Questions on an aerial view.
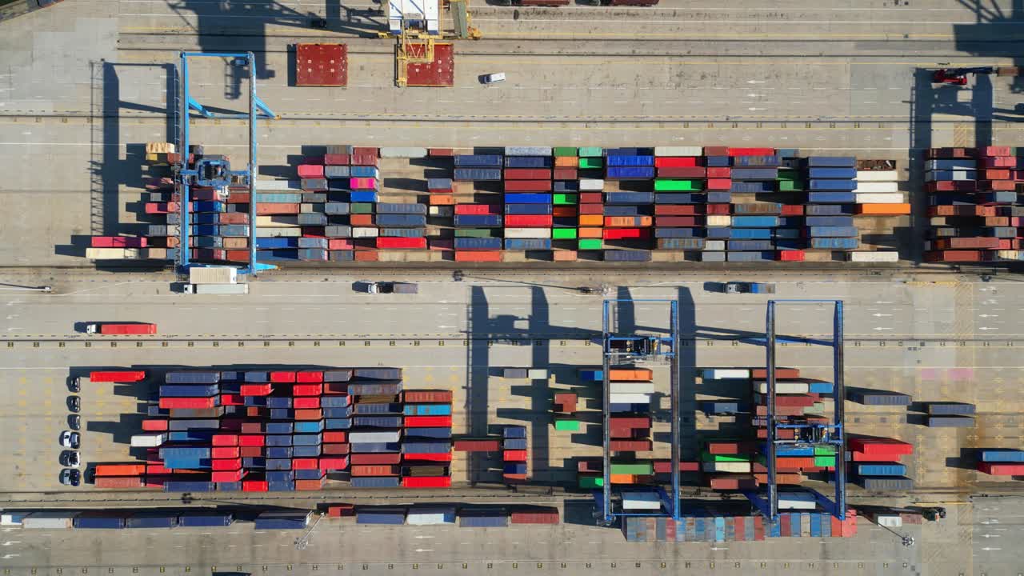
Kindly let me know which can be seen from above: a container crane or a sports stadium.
container crane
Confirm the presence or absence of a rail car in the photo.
No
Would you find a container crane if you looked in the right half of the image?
Yes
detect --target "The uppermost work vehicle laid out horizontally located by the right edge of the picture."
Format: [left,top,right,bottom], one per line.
[936,59,1012,86]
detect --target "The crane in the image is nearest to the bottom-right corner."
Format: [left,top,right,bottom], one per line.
[729,300,842,522]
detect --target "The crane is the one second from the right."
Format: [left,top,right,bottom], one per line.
[581,300,678,522]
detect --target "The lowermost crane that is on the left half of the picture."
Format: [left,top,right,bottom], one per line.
[173,52,285,283]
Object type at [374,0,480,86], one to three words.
container crane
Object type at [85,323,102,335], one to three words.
vehicle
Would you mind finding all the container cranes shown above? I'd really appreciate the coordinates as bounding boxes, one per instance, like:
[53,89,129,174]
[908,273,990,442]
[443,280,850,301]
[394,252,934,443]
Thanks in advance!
[374,0,480,86]
[581,300,678,522]
[729,300,842,522]
[173,52,285,283]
